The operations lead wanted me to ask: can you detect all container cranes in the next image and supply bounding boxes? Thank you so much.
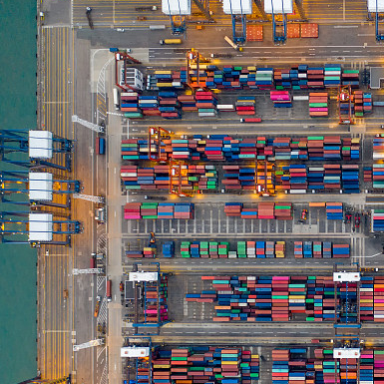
[336,80,354,124]
[332,263,363,336]
[148,122,175,164]
[265,0,308,34]
[130,263,175,336]
[363,0,384,34]
[0,172,78,212]
[166,155,192,197]
[119,340,165,384]
[184,47,209,92]
[0,213,78,251]
[0,130,78,176]
[332,340,363,384]
[225,0,272,34]
[252,155,275,197]
[163,0,217,34]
